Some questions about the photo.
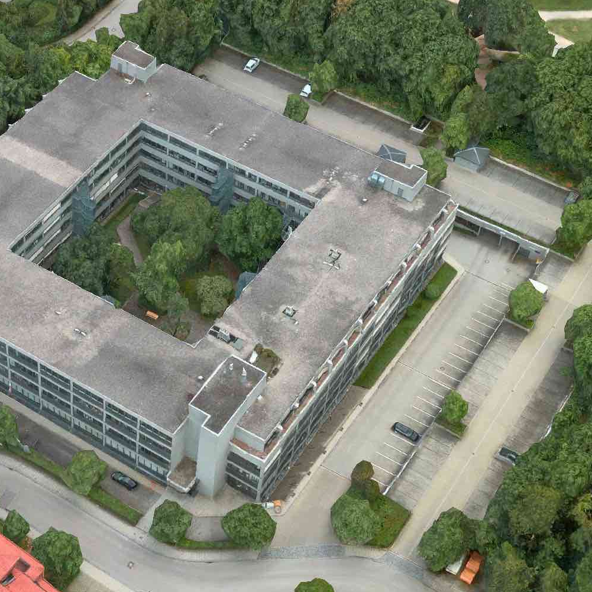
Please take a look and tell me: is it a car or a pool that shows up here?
car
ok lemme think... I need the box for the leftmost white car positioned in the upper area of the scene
[243,59,261,74]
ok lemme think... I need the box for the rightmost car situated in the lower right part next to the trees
[499,446,523,465]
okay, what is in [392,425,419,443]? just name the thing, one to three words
car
